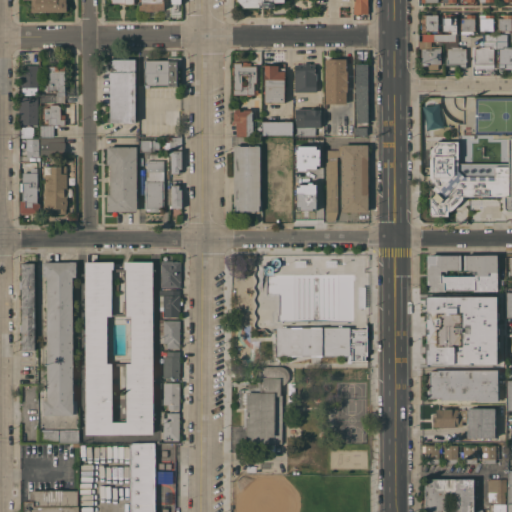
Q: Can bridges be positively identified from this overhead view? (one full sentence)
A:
No, this view has no bridge in it.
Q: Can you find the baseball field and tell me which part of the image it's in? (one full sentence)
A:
You can find the baseball field in the bottom area of the picture.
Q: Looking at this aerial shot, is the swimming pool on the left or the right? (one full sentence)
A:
The swimming pool sits on the left side.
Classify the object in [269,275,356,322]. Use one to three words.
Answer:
building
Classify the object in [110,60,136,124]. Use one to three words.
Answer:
building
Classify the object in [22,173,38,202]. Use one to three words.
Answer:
house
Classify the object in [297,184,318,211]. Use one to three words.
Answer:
house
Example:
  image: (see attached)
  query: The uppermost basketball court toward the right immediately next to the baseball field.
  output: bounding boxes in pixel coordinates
[336,380,367,443]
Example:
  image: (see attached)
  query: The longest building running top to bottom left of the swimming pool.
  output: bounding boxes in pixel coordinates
[40,263,78,430]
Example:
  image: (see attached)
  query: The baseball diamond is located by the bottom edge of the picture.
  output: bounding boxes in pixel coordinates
[233,475,372,512]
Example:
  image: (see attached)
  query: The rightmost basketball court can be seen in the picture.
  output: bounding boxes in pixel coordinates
[476,98,512,136]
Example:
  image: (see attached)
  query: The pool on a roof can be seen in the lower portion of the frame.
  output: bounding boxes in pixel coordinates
[108,317,130,363]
